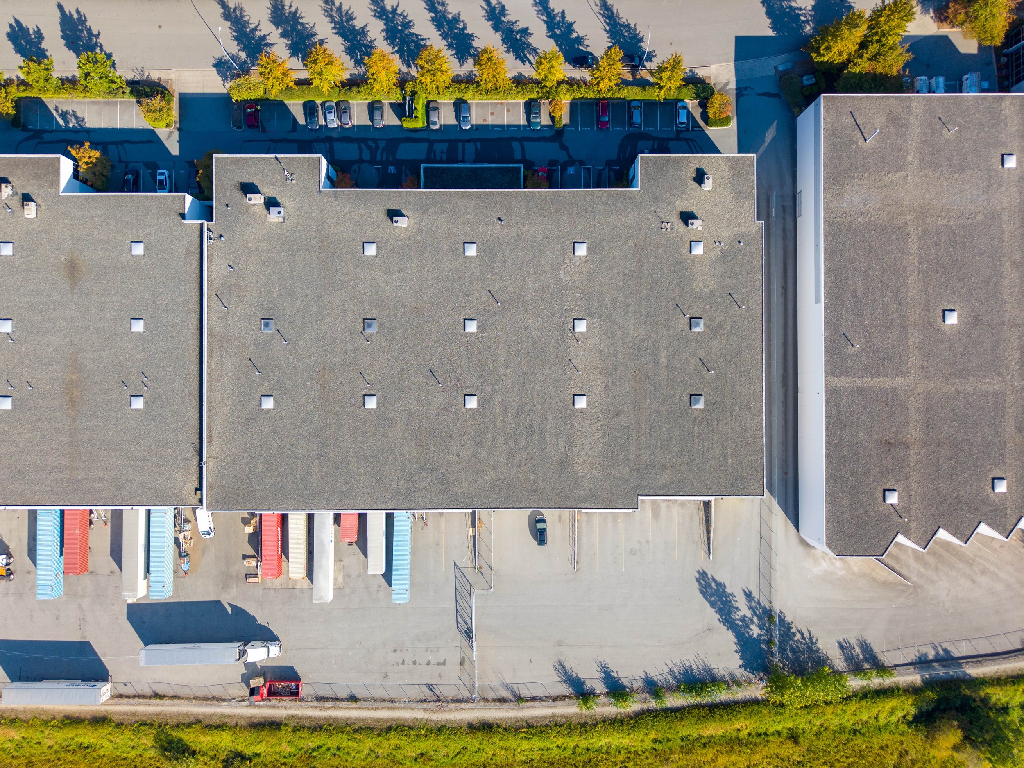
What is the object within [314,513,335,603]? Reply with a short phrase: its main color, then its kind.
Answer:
white trailer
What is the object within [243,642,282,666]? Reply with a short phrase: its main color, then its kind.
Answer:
white truck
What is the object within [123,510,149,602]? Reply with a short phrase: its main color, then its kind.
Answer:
white trailer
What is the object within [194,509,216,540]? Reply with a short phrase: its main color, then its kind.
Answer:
white vehicle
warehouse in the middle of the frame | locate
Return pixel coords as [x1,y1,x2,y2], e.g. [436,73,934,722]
[180,153,766,514]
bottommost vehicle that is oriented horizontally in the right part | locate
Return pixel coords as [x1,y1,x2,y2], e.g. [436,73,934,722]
[629,145,660,160]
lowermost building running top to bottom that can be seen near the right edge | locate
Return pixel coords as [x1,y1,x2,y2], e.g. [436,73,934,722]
[797,94,1024,558]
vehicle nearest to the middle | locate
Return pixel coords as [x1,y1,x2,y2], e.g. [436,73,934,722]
[534,513,547,546]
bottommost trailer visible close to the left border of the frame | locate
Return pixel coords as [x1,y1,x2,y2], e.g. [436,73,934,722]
[2,678,110,704]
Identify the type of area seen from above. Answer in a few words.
industrial area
